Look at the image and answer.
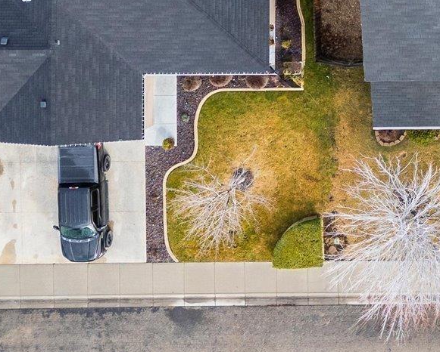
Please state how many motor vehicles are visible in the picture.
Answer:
1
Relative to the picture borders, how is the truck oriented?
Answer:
up and down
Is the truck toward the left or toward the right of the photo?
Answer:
left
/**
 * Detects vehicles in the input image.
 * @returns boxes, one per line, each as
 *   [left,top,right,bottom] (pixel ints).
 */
[50,144,110,269]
